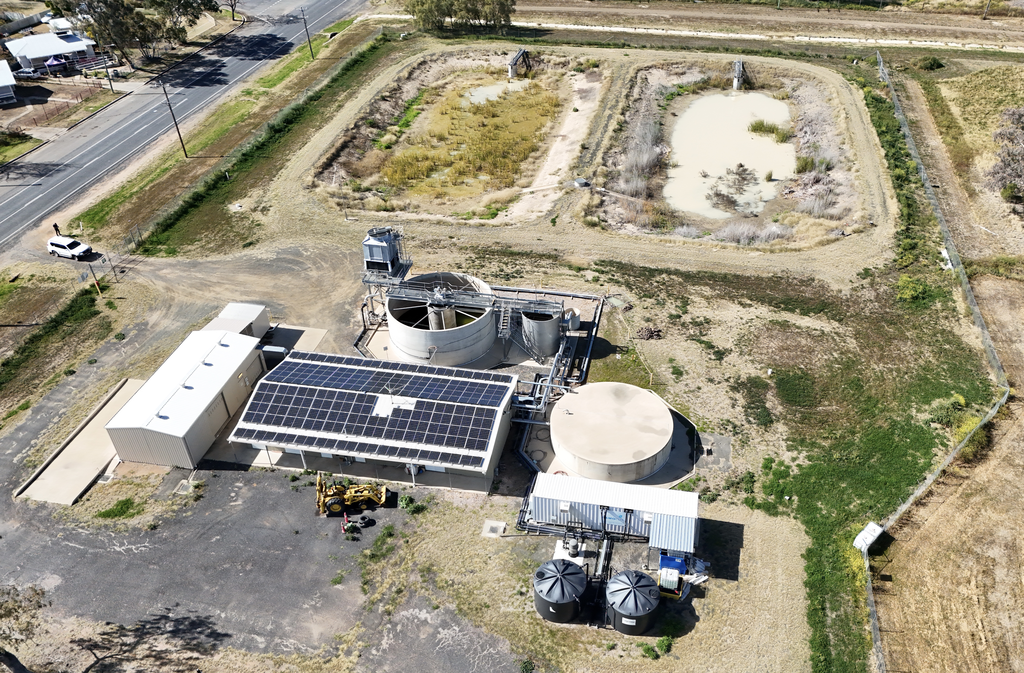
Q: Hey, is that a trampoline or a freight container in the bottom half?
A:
freight container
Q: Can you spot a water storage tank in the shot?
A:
Yes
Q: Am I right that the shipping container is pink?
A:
No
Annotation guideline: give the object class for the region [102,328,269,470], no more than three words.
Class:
shed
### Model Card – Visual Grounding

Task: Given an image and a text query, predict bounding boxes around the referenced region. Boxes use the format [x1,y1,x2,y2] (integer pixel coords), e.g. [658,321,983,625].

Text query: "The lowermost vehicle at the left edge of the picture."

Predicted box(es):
[47,235,94,260]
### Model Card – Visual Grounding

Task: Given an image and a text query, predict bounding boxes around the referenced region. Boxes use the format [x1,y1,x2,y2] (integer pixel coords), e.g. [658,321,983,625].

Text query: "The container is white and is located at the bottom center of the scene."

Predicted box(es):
[526,473,699,545]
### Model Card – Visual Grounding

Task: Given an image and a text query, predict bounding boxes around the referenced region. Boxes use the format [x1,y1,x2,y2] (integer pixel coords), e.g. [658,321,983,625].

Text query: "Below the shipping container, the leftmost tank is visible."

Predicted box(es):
[534,559,588,623]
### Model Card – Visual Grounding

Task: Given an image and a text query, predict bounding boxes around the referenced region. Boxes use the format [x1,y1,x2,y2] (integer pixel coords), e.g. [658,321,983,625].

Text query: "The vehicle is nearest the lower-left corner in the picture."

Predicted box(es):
[309,480,388,518]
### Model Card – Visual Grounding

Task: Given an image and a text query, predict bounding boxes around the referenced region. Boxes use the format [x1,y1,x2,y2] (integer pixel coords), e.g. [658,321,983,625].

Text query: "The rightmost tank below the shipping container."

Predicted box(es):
[603,568,660,635]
